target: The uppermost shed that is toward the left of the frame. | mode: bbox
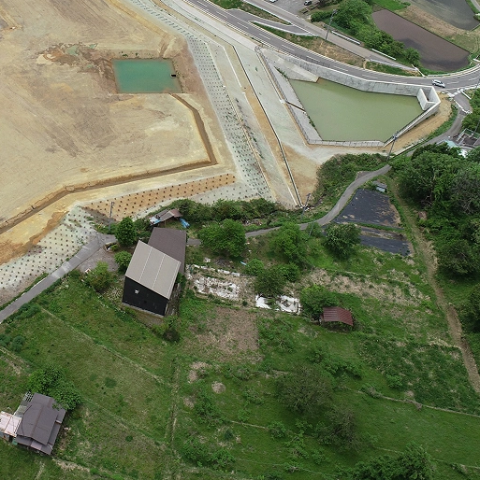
[146,203,181,228]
